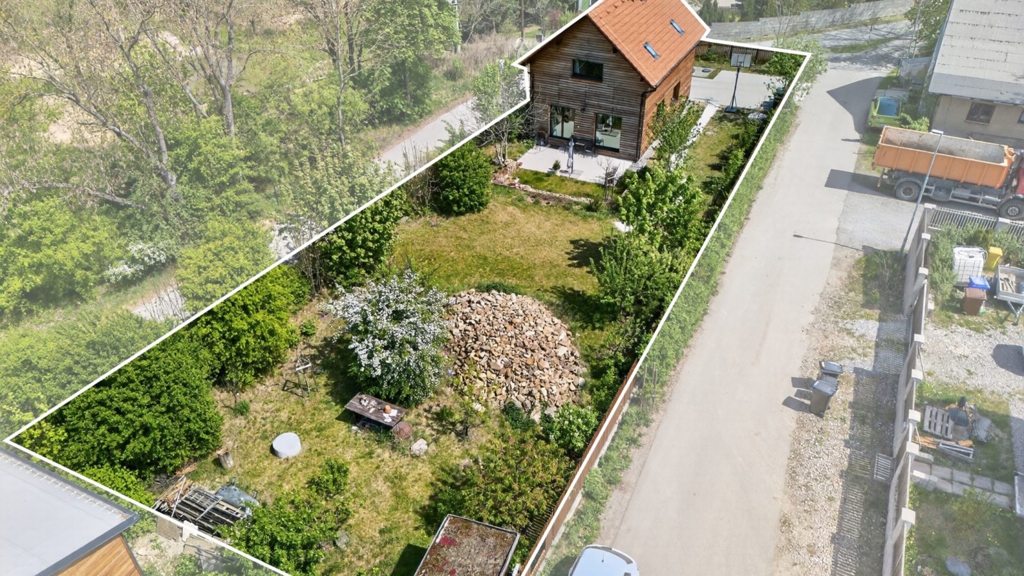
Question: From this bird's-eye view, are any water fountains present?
No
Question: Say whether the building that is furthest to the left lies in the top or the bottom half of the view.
bottom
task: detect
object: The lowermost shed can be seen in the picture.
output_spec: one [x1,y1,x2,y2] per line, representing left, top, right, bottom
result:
[413,512,521,576]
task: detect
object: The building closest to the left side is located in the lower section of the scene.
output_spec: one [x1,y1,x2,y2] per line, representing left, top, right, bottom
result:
[0,447,138,576]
